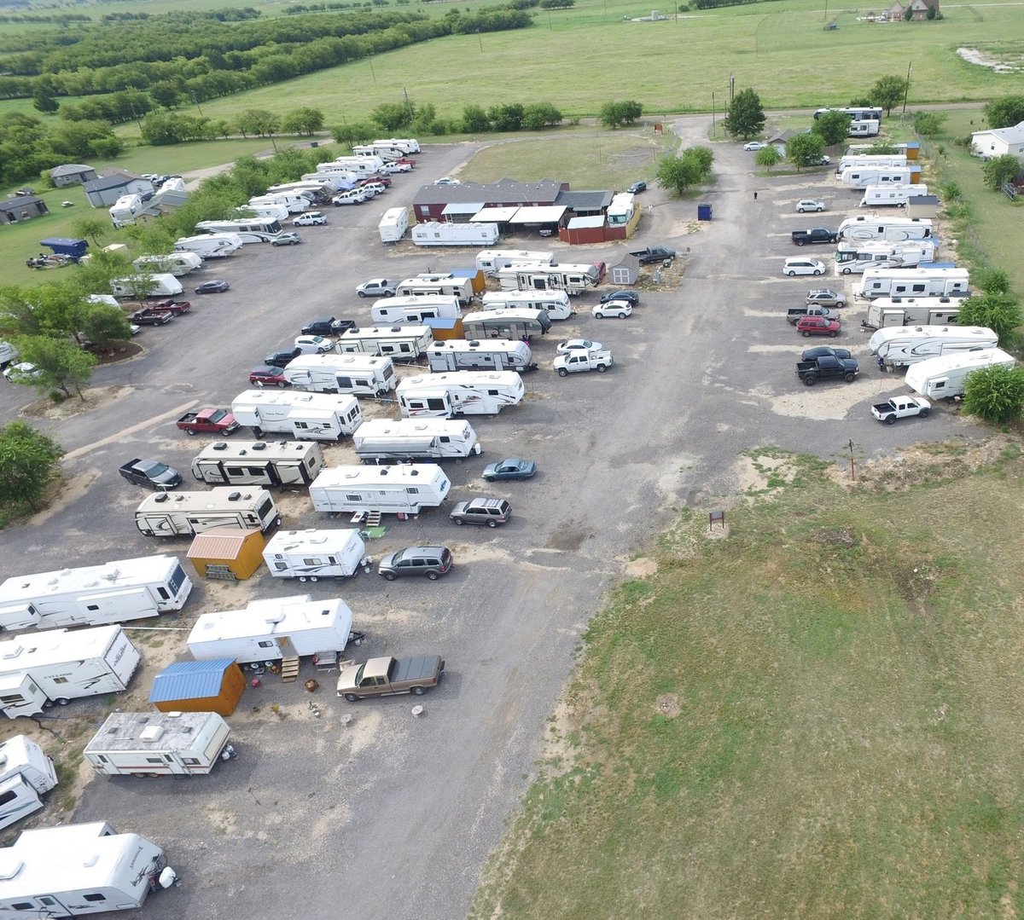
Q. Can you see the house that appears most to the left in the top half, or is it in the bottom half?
top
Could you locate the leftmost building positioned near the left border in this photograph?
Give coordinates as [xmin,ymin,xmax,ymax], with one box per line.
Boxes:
[0,190,53,227]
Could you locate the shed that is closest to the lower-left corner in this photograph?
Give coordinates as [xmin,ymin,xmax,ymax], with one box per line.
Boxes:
[140,655,252,716]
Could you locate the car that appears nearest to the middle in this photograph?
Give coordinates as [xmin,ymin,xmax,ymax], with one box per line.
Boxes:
[476,455,540,481]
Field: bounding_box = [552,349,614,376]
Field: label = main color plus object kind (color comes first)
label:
white truck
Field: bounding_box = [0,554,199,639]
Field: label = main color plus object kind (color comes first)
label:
white camper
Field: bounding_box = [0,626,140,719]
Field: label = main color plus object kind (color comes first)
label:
white trailer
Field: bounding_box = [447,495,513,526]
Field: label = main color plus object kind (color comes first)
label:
gray car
